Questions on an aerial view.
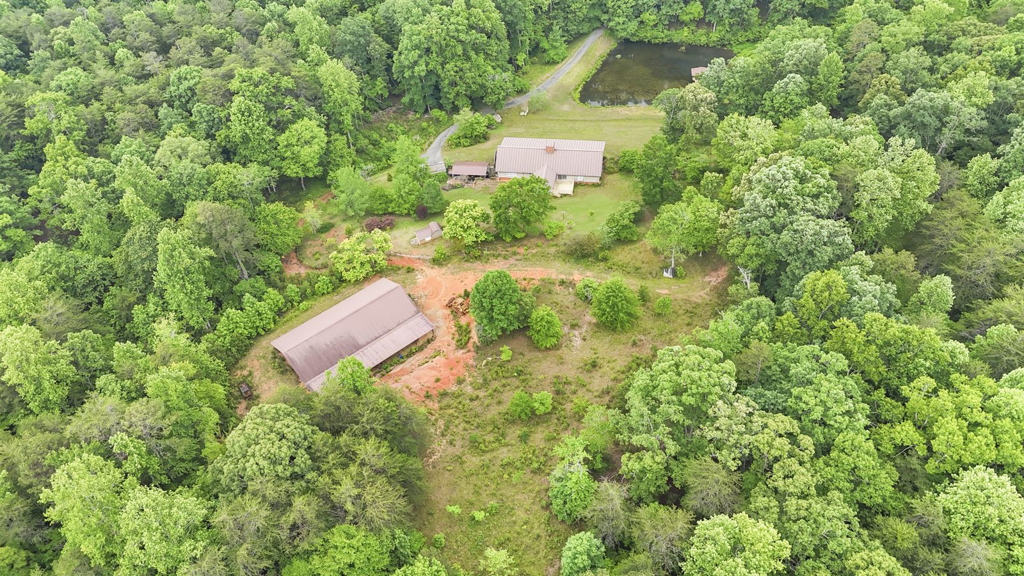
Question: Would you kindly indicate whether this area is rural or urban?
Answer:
rural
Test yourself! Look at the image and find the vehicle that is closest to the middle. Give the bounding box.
[440,291,470,316]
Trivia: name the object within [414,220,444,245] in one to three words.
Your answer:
shed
